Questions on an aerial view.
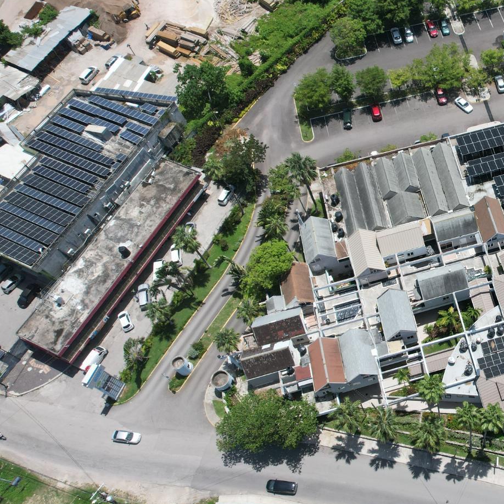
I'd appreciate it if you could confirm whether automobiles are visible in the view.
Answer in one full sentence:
Yes, the photo shows an automobile.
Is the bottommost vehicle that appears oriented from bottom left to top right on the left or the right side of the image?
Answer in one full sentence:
It is on the left.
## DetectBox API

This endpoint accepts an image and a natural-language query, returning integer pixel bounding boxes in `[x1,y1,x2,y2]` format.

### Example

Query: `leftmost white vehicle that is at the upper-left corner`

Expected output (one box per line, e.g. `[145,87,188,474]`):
[76,63,102,85]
